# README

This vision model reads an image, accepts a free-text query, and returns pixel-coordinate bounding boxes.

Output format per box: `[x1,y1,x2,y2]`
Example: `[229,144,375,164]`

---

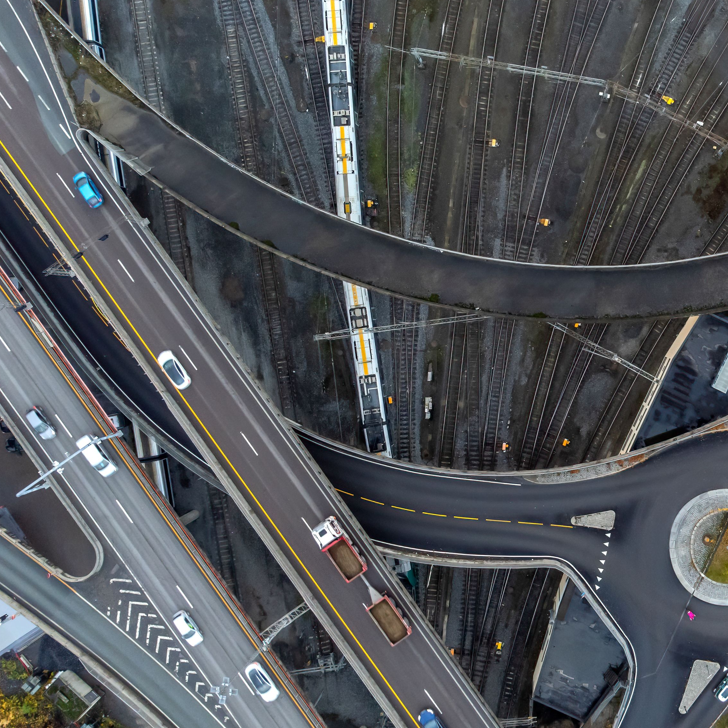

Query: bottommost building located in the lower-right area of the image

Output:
[533,577,627,721]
